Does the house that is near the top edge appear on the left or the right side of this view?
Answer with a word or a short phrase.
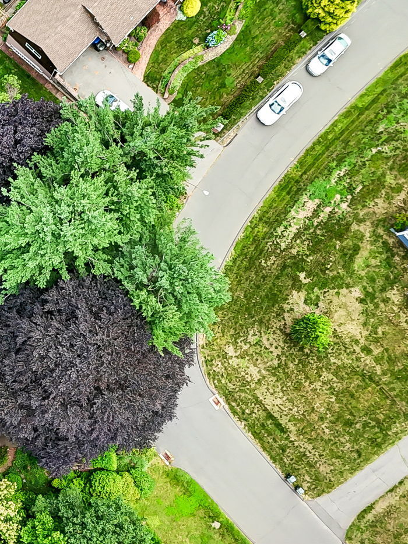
left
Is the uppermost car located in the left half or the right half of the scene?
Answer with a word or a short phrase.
right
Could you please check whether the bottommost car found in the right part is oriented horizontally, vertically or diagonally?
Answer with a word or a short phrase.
diagonally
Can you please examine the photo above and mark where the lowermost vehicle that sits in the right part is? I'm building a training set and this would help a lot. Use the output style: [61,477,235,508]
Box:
[254,77,307,129]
